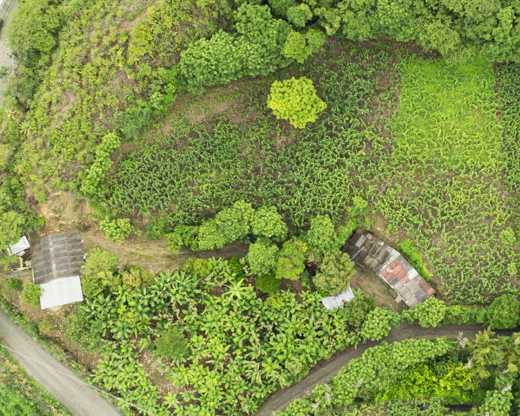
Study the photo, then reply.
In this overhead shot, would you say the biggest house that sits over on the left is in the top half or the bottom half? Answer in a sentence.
The biggest house that sits over on the left sits in the bottom half of the picture.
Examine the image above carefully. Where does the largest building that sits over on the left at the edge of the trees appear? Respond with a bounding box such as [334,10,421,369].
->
[28,231,88,310]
